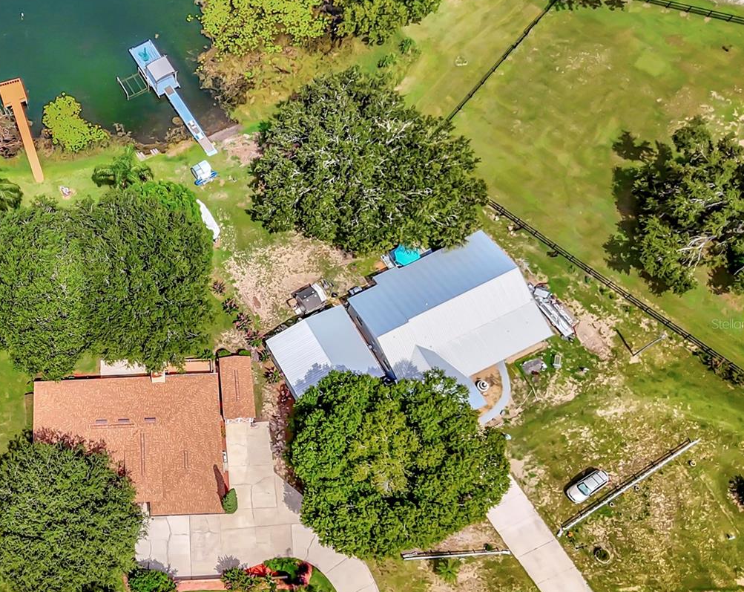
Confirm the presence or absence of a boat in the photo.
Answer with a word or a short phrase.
Yes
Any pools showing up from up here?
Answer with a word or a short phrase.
No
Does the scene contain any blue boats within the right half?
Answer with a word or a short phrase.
No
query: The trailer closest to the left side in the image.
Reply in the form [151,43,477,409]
[290,283,327,317]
